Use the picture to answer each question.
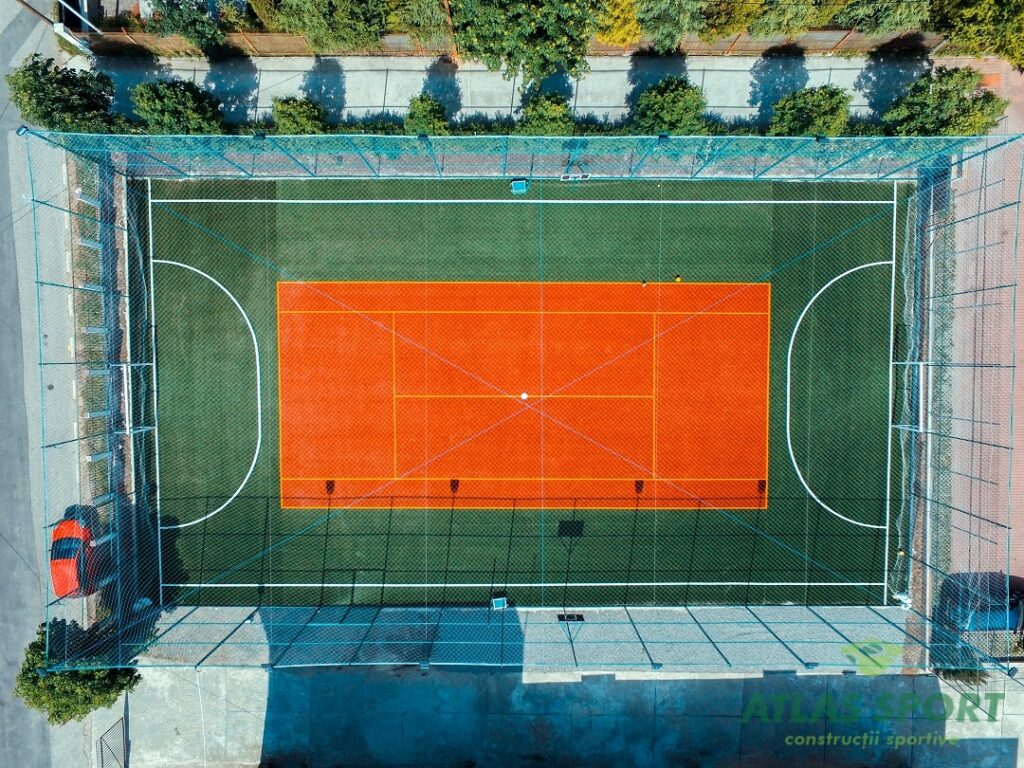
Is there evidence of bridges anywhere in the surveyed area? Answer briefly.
No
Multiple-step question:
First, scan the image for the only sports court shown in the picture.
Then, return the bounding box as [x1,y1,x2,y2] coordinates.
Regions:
[127,178,910,607]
